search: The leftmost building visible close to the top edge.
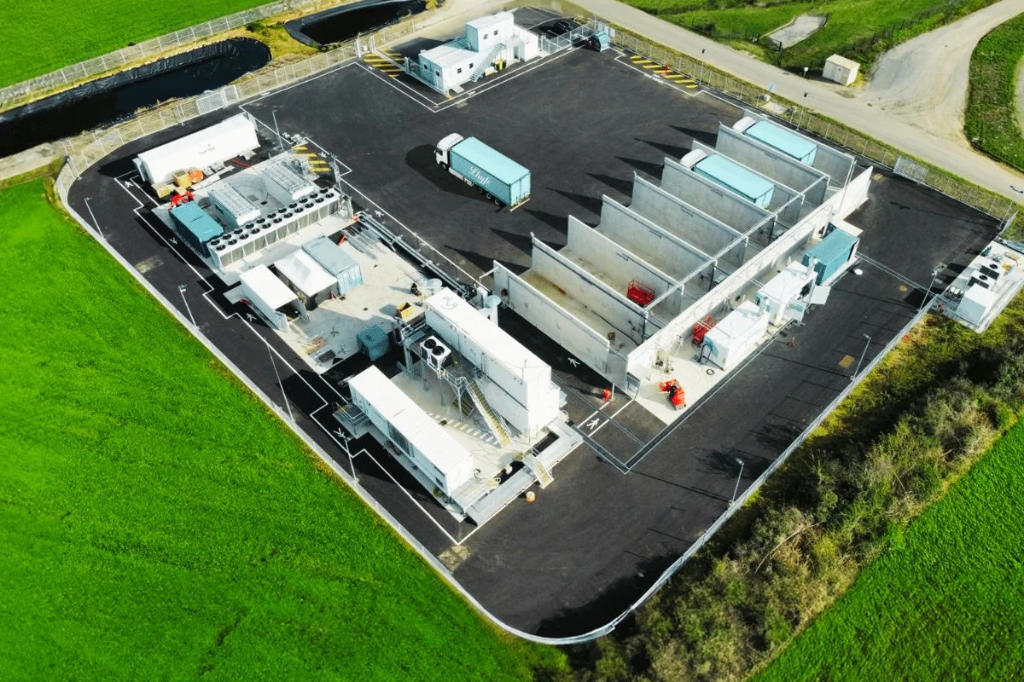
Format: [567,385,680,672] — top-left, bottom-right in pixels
[419,5,539,90]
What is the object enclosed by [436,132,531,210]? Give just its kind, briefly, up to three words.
truck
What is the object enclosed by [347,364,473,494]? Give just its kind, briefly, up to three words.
shipping container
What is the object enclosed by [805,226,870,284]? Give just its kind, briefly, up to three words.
shipping container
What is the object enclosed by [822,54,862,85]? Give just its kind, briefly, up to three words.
shed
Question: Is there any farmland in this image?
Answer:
Yes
